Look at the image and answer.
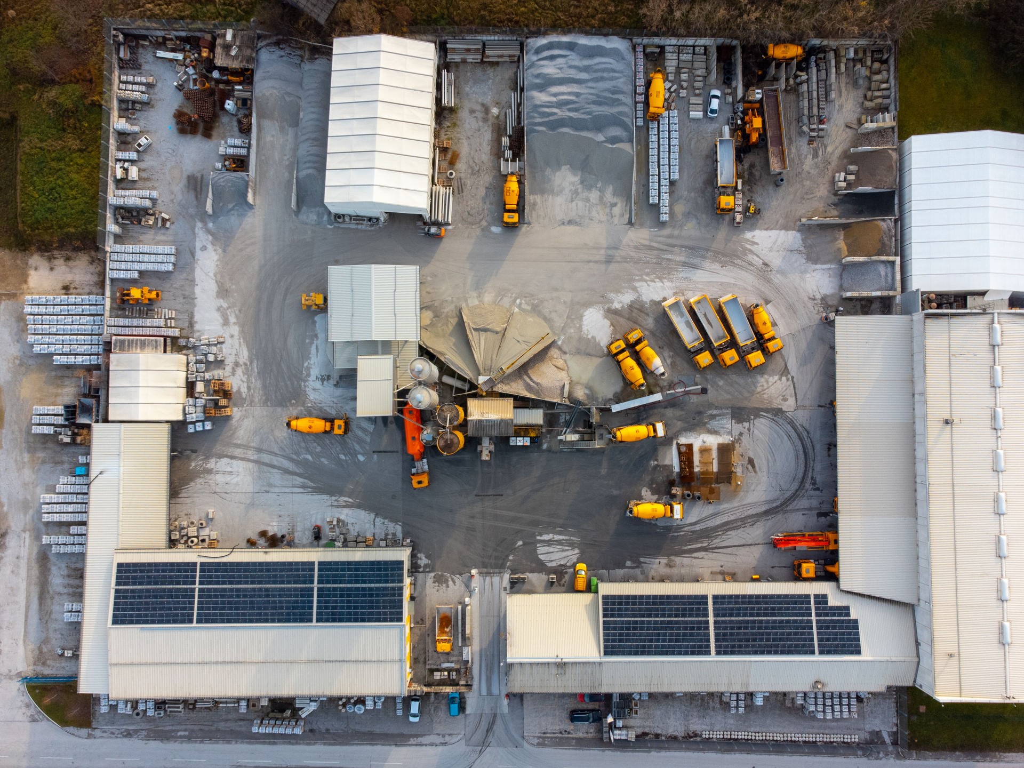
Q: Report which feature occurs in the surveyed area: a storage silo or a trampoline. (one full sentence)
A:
The one in the frame is a storage silo.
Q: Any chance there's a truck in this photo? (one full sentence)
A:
Yes, there is a truck in the image.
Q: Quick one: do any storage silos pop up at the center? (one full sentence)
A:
Yes, a storage silo can be seen at the center.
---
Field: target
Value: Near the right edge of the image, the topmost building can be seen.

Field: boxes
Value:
[891,130,1024,300]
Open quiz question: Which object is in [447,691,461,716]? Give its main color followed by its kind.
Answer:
blue car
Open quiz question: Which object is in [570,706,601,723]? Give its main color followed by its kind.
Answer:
black car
